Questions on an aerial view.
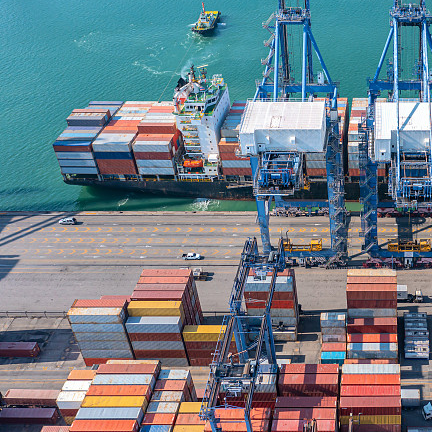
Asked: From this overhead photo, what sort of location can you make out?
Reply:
port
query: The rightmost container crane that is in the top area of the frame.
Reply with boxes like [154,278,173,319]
[358,0,432,266]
